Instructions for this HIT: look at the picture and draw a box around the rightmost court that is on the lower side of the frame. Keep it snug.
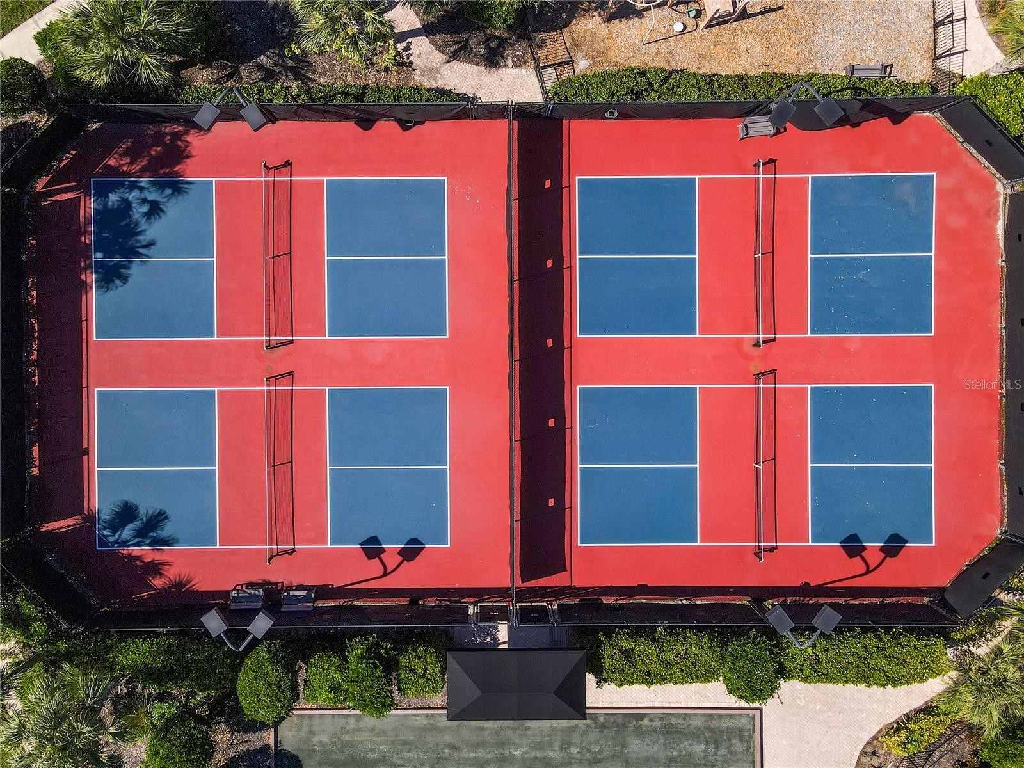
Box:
[578,384,934,547]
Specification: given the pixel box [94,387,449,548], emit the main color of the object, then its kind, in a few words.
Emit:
blue sports court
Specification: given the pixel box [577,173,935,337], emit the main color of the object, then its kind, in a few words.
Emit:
blue sports court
